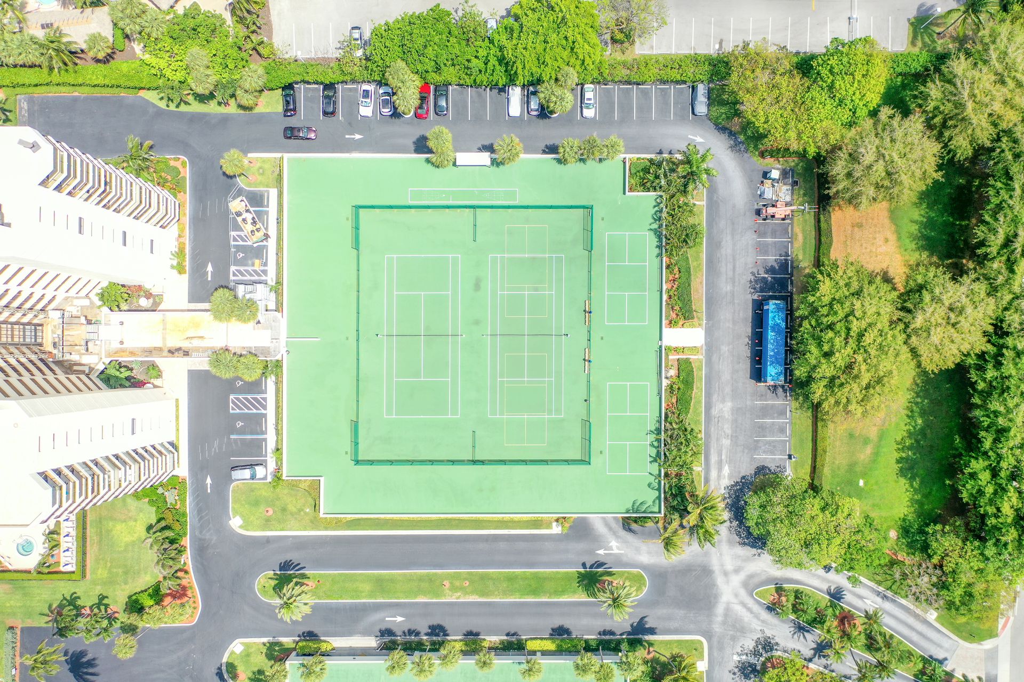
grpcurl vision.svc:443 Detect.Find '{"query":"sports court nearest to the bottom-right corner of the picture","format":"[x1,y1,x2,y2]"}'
[607,383,649,474]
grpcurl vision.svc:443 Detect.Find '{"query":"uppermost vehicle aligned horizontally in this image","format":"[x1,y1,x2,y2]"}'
[283,124,317,140]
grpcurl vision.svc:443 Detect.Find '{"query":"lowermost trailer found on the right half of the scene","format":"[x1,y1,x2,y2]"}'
[761,300,787,383]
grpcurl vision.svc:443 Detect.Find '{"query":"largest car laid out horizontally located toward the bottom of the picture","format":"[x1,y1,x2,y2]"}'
[231,464,266,480]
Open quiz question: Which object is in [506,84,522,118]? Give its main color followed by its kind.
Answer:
white car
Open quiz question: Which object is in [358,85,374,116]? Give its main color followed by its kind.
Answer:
white car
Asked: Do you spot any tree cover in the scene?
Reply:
Yes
